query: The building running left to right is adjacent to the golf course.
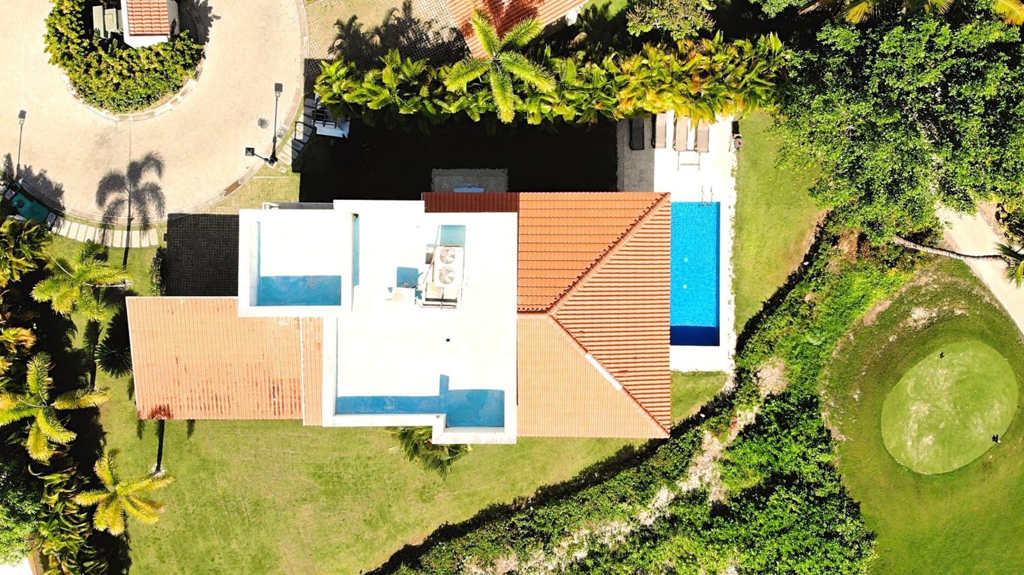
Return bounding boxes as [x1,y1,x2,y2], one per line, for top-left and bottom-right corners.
[124,188,672,444]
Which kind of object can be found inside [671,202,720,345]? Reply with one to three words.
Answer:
swimming pool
